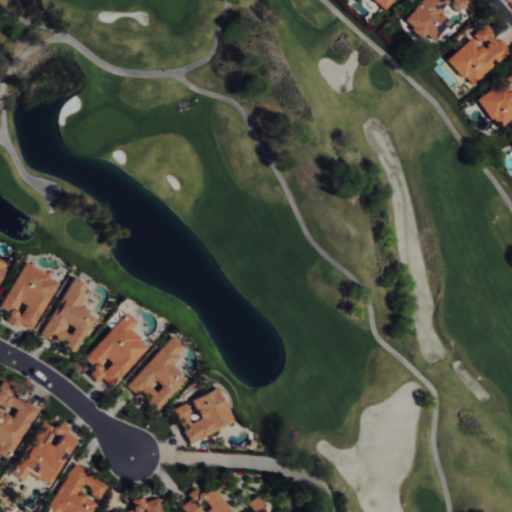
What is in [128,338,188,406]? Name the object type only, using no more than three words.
house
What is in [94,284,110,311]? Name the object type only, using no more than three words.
swimming pool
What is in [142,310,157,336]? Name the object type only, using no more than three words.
swimming pool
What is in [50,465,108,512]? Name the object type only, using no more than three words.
house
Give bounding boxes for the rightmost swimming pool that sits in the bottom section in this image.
[227,432,249,446]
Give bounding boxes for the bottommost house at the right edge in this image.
[478,73,512,126]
